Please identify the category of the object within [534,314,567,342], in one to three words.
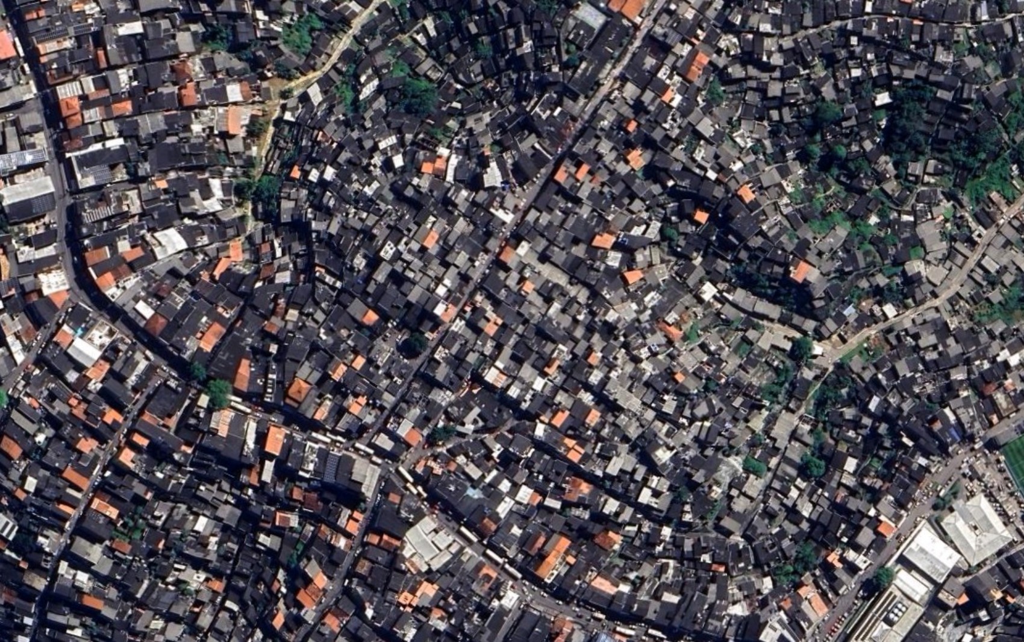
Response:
house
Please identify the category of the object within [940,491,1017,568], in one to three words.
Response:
building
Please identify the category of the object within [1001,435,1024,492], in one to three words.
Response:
soccer field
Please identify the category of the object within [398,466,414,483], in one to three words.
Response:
vehicle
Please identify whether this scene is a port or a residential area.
residential area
